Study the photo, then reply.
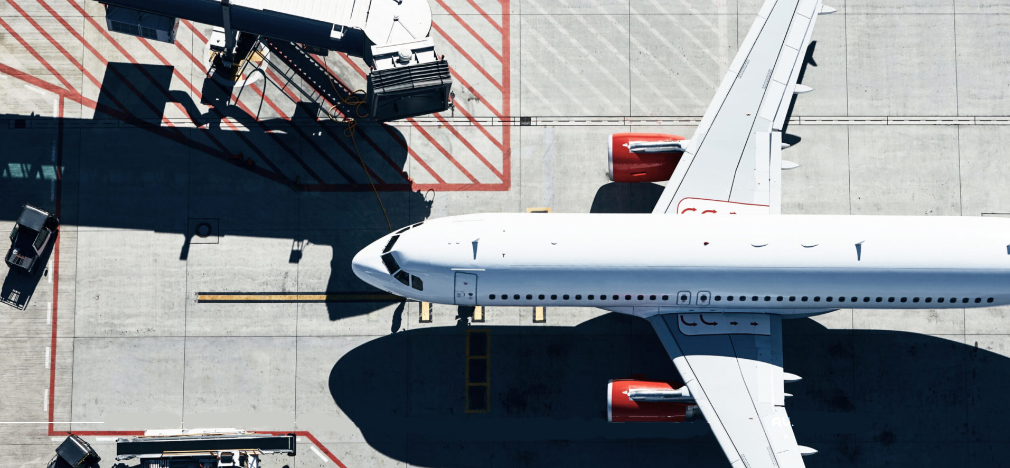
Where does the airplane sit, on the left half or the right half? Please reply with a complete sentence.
The airplane sits on the right side.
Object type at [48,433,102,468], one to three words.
work vehicle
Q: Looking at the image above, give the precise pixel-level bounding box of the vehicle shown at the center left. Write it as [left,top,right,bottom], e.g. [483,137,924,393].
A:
[4,201,57,274]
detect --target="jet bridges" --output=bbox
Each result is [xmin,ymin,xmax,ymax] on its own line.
[103,0,463,124]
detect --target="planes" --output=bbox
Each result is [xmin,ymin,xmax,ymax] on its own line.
[352,0,1010,468]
